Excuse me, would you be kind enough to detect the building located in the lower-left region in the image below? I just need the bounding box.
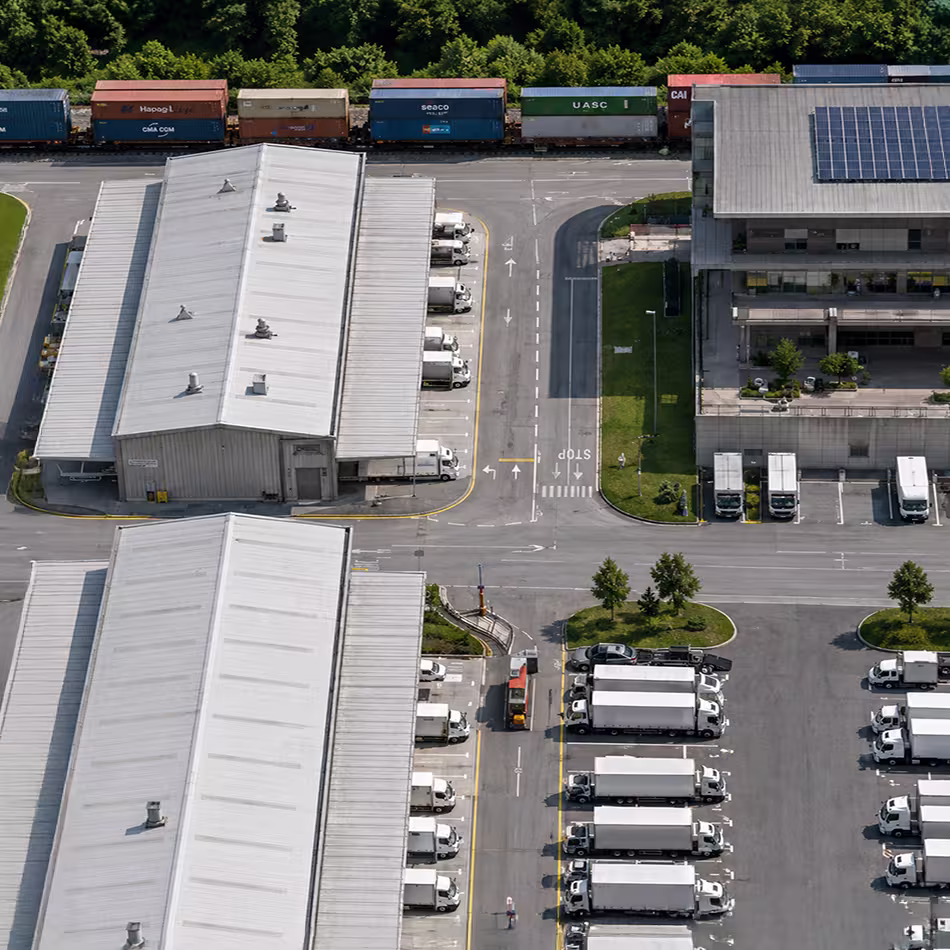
[0,514,430,950]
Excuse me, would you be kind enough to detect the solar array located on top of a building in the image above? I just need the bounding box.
[801,107,950,186]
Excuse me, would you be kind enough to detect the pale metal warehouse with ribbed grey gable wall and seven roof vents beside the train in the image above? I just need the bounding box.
[32,142,442,502]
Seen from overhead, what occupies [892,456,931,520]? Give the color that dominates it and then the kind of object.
white truck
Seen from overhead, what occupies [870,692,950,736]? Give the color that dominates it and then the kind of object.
white truck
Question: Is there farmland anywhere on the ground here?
No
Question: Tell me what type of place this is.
industrial area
